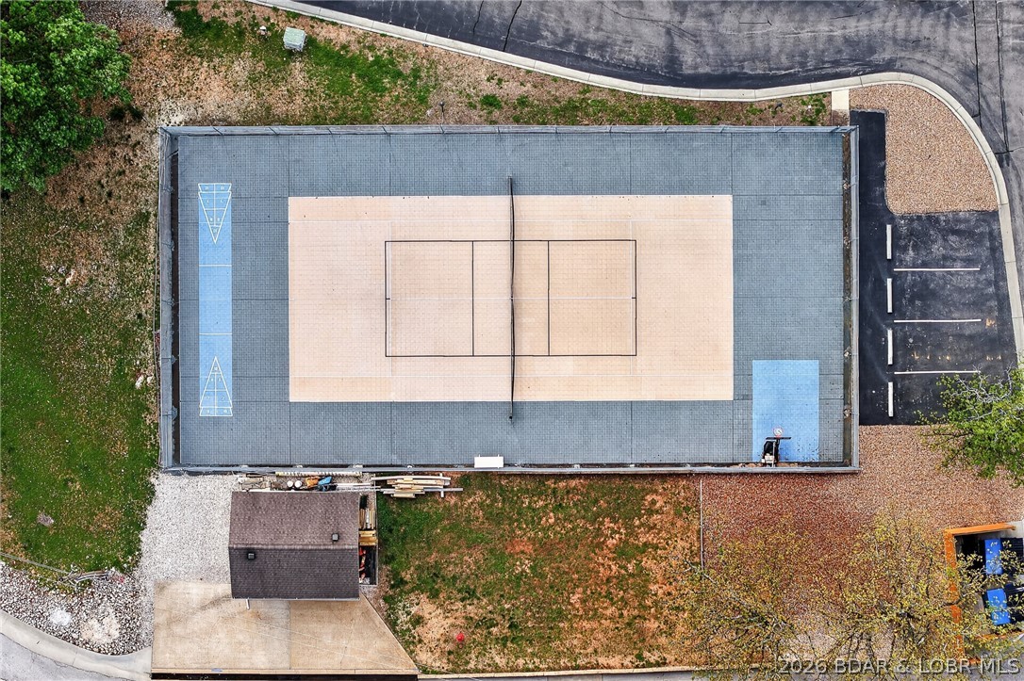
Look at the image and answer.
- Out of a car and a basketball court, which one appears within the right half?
basketball court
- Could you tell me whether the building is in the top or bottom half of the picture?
bottom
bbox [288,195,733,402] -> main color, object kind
white tennis court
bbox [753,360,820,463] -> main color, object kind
blue basketball court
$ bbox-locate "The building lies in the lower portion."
[228,488,361,600]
